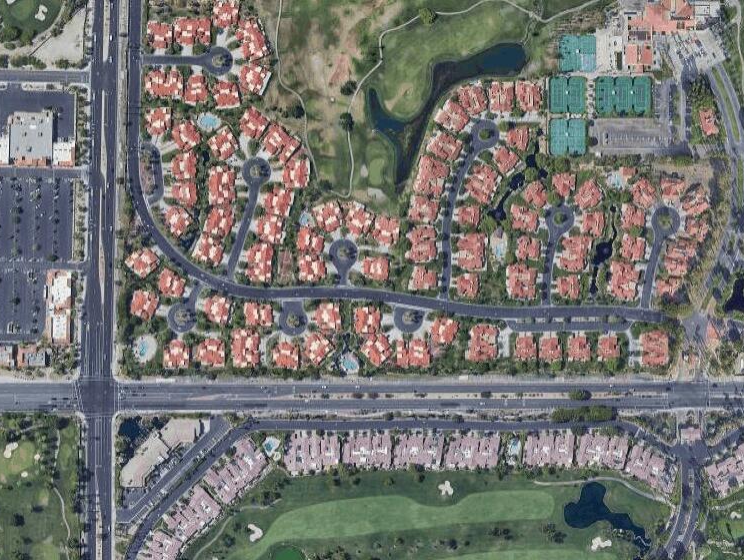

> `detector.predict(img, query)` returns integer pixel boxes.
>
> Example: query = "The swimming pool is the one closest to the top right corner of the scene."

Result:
[606,171,629,189]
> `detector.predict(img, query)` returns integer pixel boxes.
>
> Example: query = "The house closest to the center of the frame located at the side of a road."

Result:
[361,255,390,281]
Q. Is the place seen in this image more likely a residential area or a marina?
residential area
